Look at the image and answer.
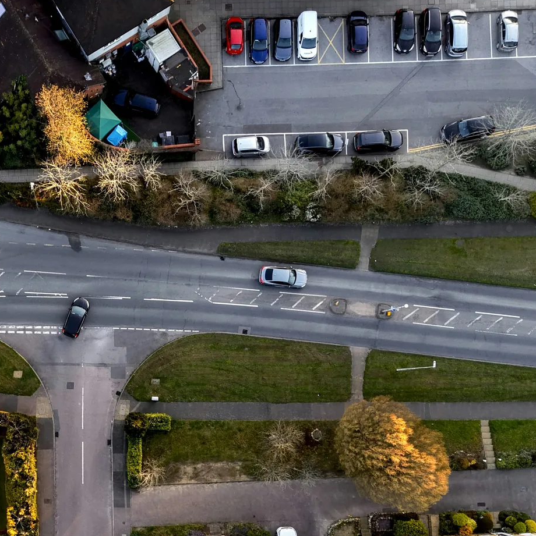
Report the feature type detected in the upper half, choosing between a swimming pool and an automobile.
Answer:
automobile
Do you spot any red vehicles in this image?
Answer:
Yes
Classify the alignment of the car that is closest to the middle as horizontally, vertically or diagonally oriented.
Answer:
horizontally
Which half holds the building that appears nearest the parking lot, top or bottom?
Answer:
top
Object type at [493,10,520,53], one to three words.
car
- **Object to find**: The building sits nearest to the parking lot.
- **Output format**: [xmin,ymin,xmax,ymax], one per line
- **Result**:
[159,47,198,105]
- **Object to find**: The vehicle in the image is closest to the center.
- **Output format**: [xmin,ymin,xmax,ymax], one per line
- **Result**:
[257,265,306,289]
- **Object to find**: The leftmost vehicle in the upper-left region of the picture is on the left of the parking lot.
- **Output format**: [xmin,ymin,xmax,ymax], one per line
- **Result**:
[111,87,162,120]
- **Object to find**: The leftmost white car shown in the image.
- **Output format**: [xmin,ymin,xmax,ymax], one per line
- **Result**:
[230,134,270,157]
